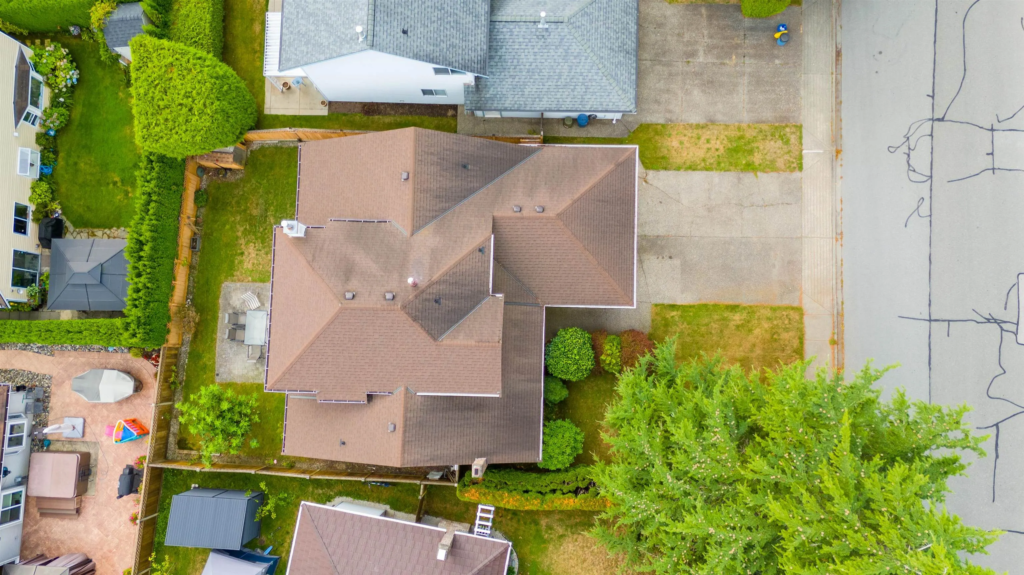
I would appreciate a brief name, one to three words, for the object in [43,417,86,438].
umbrella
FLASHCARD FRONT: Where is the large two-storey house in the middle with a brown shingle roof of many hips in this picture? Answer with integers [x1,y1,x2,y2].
[263,127,641,482]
